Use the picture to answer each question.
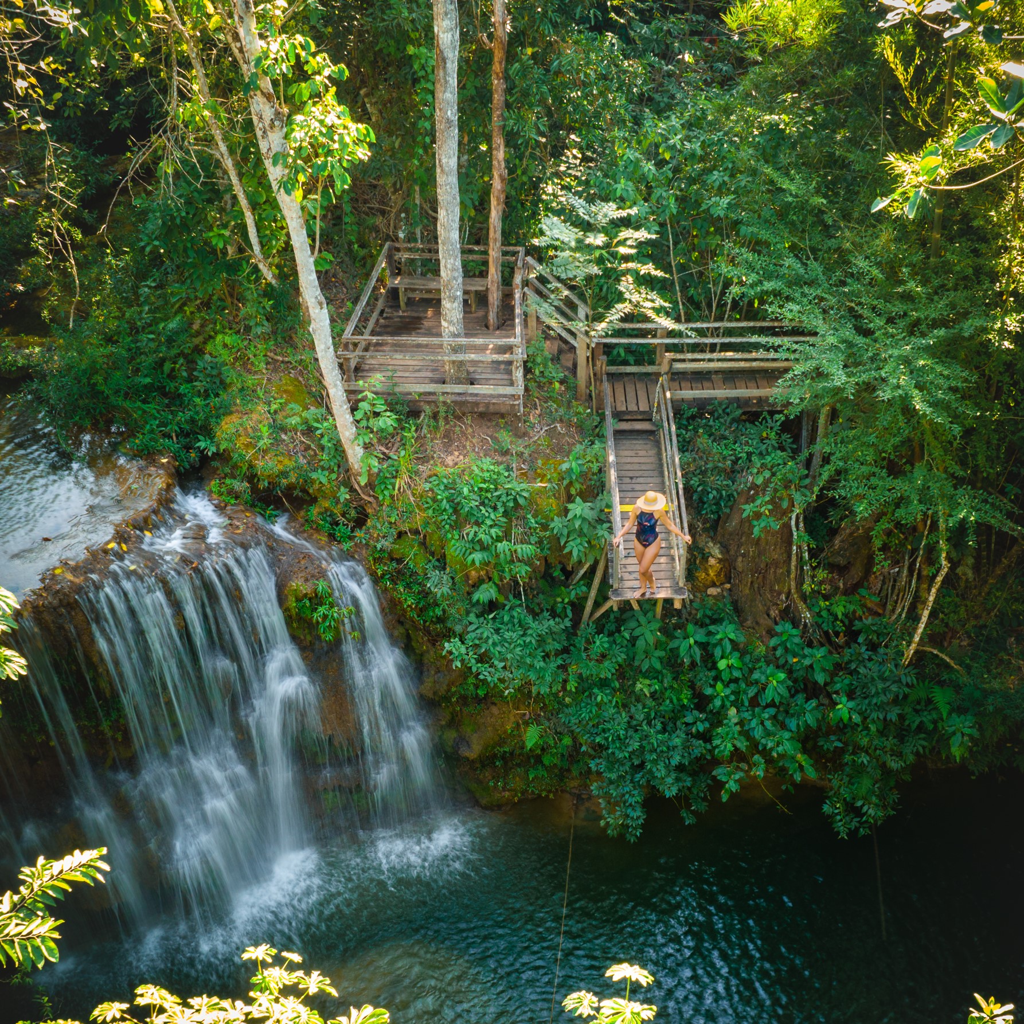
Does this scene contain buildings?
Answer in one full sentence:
No, there is no building in the image.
